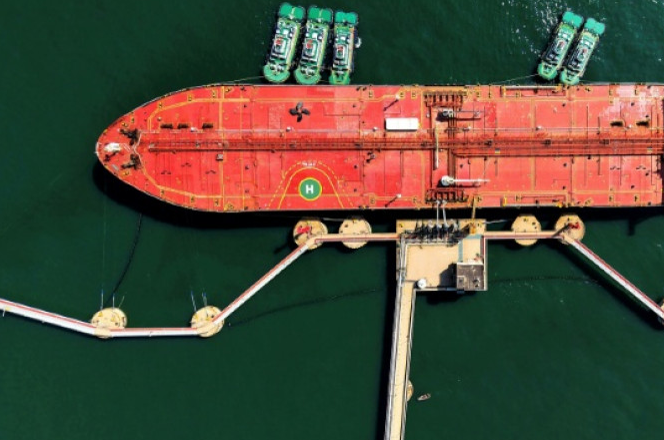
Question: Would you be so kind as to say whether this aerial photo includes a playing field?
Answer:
No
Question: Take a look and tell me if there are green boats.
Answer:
Yes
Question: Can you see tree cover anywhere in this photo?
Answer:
No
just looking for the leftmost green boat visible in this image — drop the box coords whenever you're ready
[266,1,307,84]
